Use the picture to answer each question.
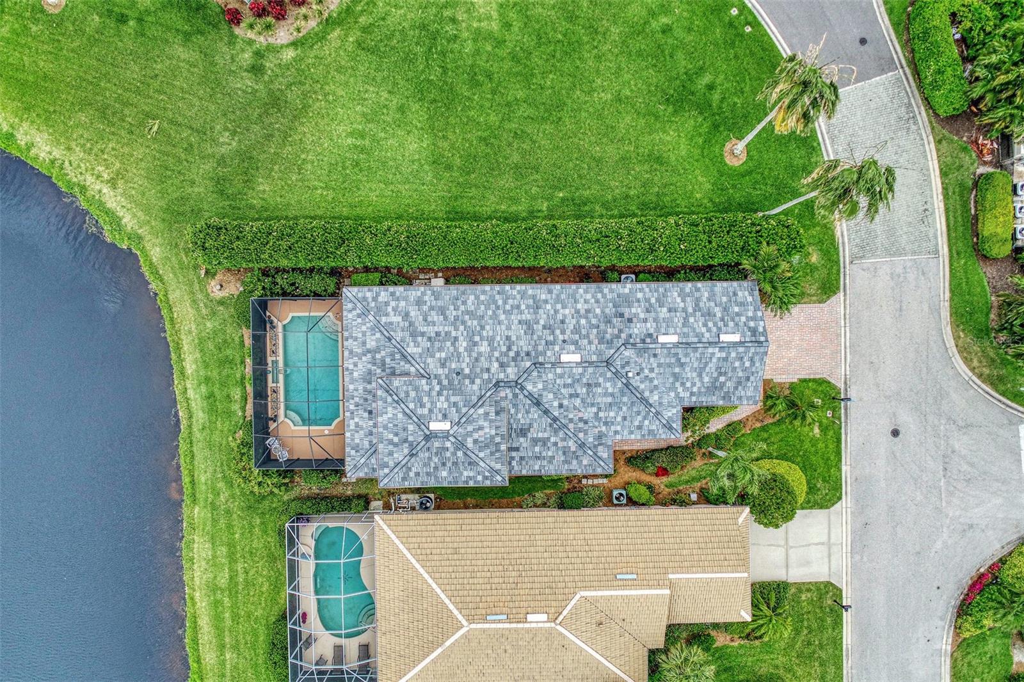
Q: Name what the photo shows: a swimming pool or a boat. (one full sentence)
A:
The image shows a swimming pool.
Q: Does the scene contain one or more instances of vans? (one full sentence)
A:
No, the scene contains no van.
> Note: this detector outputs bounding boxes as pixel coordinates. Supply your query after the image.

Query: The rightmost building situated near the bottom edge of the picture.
[372,505,753,682]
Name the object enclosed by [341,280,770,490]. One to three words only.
house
